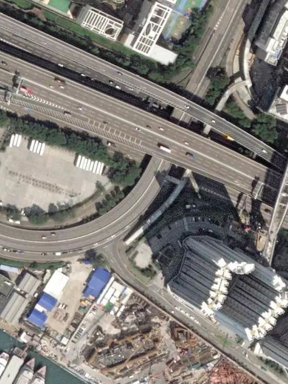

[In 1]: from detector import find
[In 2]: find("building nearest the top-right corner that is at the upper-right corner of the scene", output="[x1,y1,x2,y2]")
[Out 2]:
[250,0,288,64]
